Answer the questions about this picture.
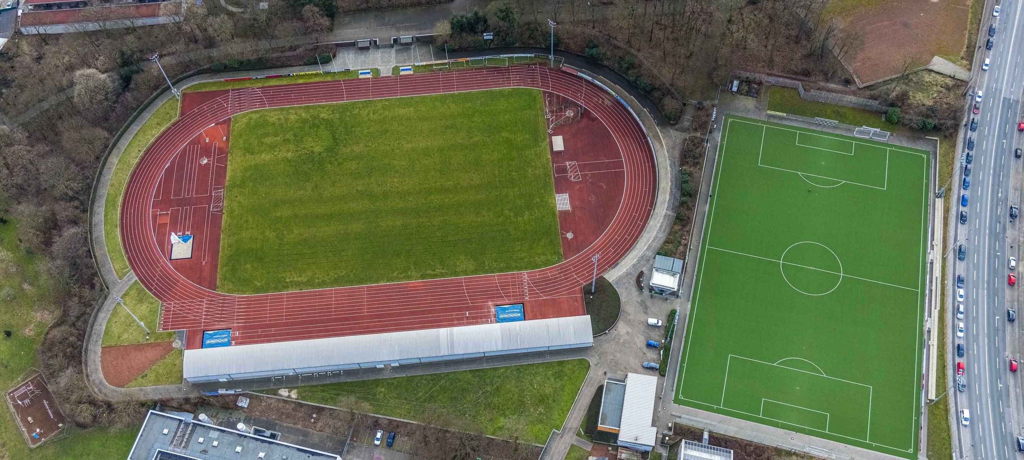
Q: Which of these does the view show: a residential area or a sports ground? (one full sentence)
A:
The area seen from above is a sports ground.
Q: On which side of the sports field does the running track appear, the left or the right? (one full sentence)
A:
The sports field has the running track on its left side.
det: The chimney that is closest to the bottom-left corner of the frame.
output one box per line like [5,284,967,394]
[198,412,214,425]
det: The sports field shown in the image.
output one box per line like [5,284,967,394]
[673,114,931,460]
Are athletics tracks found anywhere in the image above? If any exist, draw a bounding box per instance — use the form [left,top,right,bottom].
[119,65,655,351]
